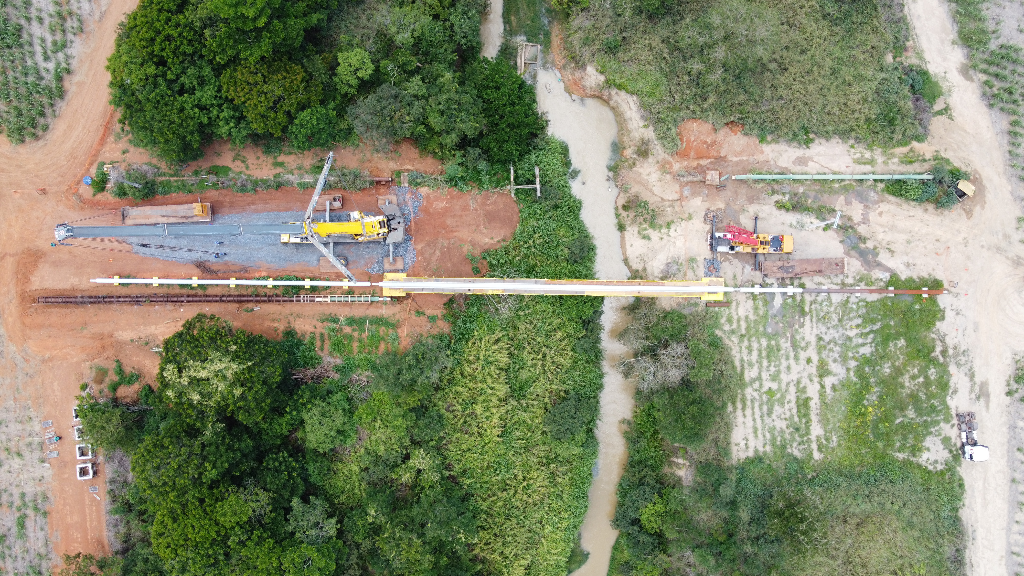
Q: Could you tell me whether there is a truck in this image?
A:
Yes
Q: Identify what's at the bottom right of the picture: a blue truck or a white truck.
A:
white truck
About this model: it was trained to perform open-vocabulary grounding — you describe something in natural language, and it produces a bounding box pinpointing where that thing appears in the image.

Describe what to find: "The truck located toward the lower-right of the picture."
[953,411,989,462]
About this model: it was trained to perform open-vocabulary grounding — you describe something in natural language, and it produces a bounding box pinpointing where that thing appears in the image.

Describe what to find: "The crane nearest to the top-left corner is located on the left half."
[46,149,406,286]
